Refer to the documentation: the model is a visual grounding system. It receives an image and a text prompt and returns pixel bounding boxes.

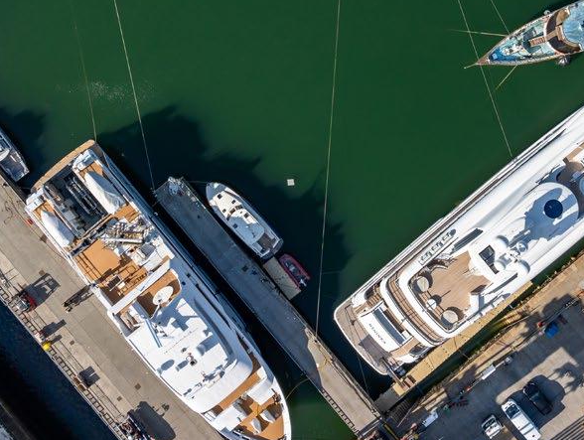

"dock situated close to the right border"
[393,254,570,398]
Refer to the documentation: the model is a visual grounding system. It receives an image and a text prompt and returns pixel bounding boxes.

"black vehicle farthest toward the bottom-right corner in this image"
[522,380,554,417]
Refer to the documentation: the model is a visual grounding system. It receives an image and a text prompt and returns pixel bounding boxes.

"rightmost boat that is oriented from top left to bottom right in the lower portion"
[278,253,311,292]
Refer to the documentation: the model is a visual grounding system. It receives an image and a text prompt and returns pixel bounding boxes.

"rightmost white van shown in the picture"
[501,400,542,440]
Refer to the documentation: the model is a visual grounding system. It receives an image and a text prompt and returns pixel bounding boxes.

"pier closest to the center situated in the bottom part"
[264,256,300,301]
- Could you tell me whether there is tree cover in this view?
No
